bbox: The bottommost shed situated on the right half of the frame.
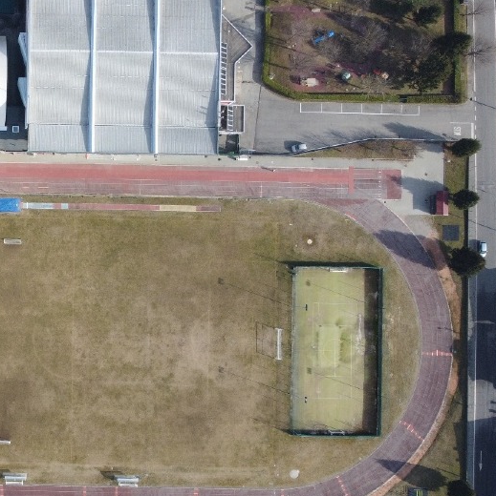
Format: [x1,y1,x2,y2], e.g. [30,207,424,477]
[430,190,448,215]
